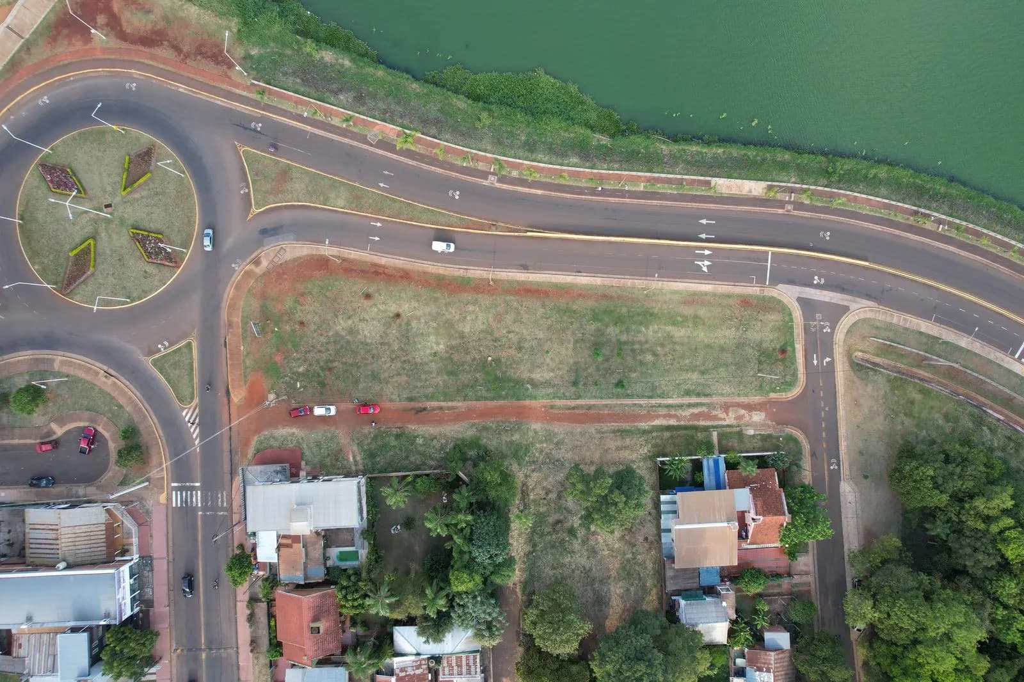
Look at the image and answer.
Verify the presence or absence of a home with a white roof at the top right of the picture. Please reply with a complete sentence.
No, no home with a white roof is visible at the top right of the picture.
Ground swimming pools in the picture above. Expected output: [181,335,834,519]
[335,549,360,563]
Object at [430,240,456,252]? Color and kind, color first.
white vehicle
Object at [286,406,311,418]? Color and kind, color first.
red vehicle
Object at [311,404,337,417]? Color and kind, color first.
white vehicle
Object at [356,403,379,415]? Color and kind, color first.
red vehicle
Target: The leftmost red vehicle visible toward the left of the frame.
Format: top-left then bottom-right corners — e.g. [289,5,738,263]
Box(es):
[32,440,58,453]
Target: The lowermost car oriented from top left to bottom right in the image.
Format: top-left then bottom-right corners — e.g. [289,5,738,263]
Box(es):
[850,621,869,643]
